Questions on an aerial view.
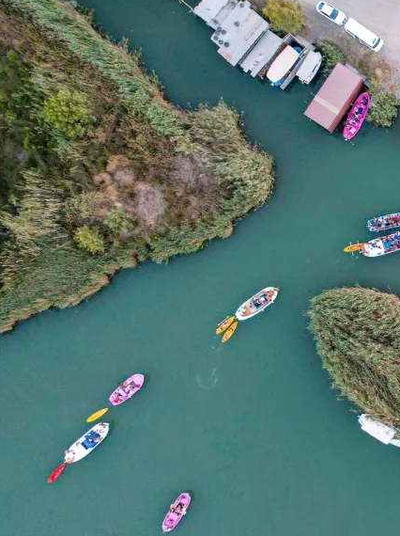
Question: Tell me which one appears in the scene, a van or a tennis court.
van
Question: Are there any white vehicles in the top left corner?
No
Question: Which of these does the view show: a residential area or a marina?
marina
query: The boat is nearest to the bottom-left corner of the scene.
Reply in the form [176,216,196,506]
[47,464,66,483]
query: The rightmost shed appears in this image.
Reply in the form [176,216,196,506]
[305,63,365,135]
